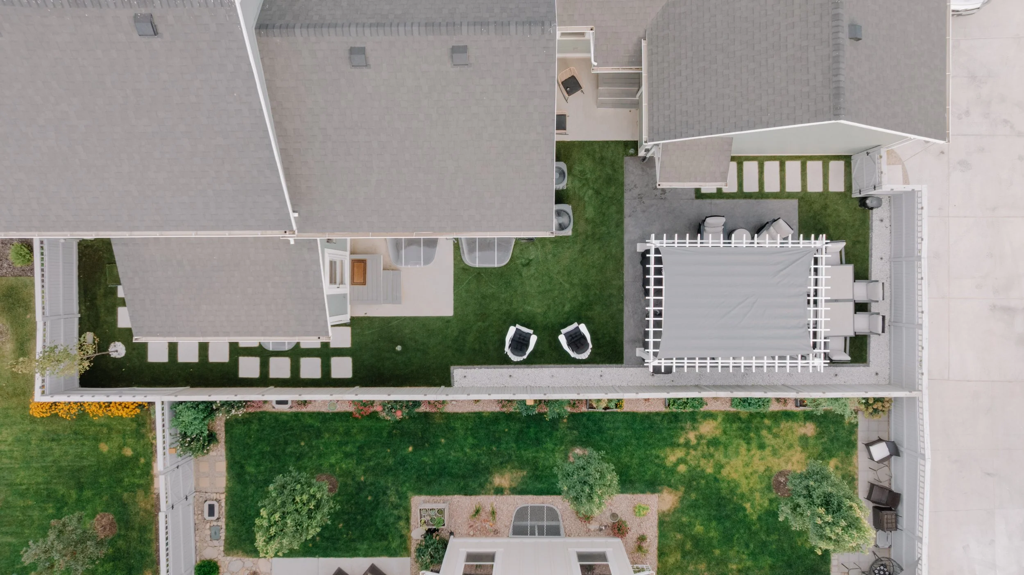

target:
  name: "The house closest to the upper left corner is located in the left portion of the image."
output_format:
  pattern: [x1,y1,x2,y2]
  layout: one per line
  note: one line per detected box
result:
[0,0,678,341]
